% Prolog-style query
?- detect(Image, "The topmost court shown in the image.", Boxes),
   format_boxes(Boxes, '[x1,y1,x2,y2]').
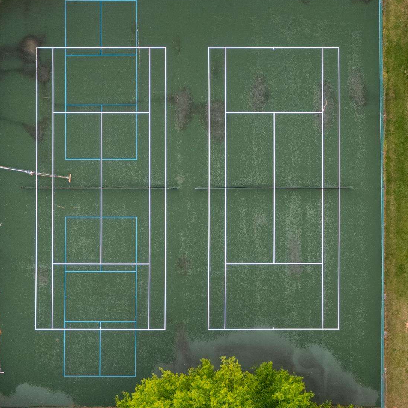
[65,0,137,159]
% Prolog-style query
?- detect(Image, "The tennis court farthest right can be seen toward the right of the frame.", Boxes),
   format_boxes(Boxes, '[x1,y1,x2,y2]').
[205,45,342,333]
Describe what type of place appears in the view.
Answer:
sports ground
